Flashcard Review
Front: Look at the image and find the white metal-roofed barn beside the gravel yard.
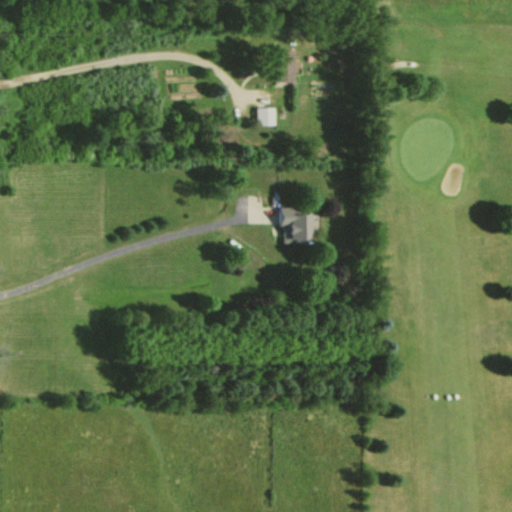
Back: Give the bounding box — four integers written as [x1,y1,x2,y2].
[258,107,277,126]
